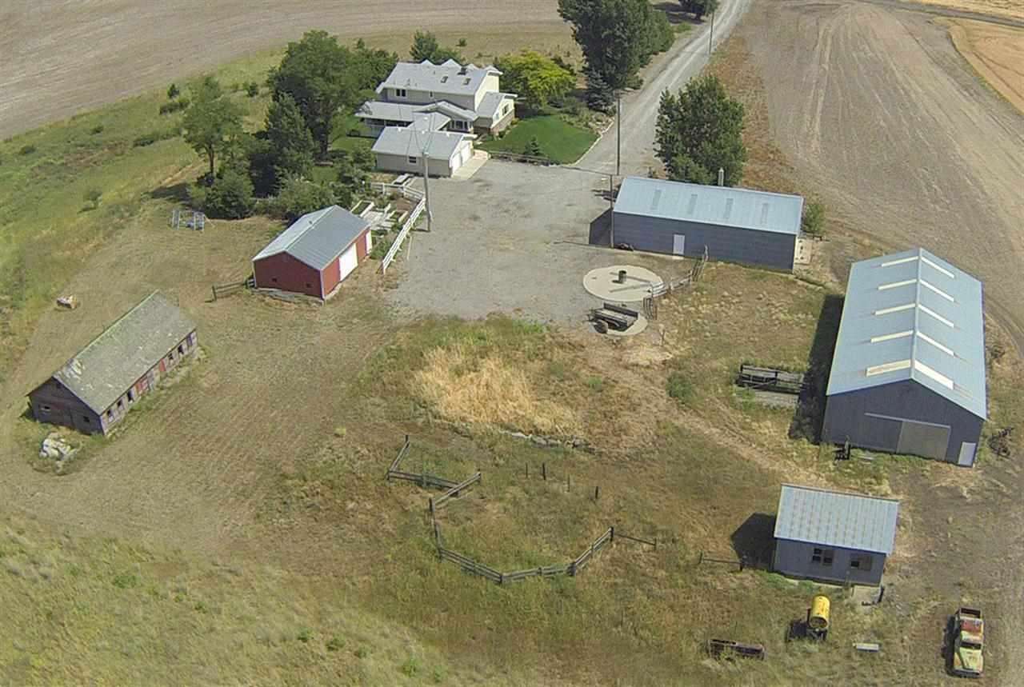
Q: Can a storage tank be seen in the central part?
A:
No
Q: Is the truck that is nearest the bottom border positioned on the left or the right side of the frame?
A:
right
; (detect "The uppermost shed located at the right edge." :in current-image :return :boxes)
[821,248,987,469]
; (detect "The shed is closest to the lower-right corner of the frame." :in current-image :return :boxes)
[771,483,897,589]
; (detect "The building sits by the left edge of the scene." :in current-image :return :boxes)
[25,292,199,435]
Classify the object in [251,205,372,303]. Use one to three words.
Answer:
barn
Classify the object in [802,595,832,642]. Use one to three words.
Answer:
storage tank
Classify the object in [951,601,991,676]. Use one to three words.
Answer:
truck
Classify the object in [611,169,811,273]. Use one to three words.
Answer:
shed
